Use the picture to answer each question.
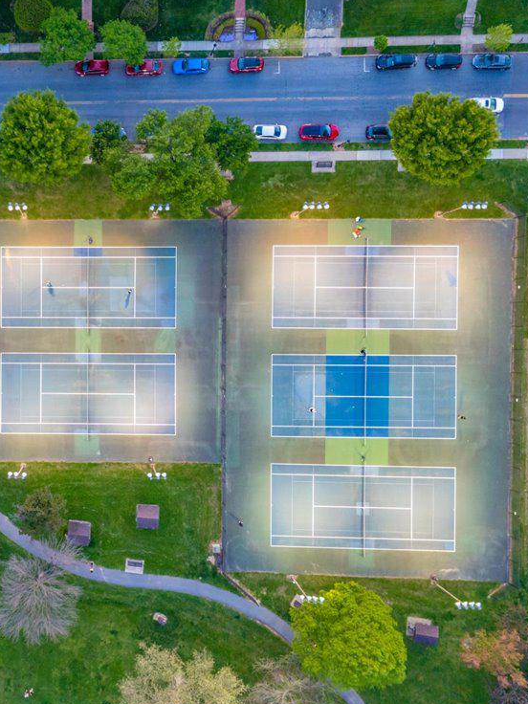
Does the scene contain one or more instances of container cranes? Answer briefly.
No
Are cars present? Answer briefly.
Yes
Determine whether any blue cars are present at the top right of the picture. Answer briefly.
Yes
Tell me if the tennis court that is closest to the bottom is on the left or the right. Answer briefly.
right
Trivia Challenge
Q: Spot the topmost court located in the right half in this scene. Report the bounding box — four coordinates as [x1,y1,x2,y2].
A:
[230,217,515,342]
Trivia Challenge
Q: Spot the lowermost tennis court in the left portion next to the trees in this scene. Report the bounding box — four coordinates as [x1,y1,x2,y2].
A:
[0,342,223,464]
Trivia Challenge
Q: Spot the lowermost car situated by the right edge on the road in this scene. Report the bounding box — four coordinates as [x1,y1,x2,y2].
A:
[471,94,507,112]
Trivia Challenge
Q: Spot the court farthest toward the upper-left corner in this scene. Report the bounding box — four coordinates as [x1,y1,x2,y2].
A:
[0,220,223,342]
